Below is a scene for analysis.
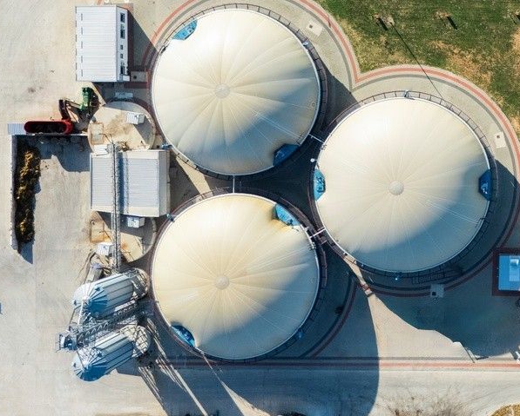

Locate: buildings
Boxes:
[499,254,520,292]
[76,5,134,83]
[90,151,169,216]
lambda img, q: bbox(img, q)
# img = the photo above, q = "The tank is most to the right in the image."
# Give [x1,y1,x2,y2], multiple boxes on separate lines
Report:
[309,92,496,279]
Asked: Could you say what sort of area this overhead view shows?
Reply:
industrial area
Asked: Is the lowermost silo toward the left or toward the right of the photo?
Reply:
left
